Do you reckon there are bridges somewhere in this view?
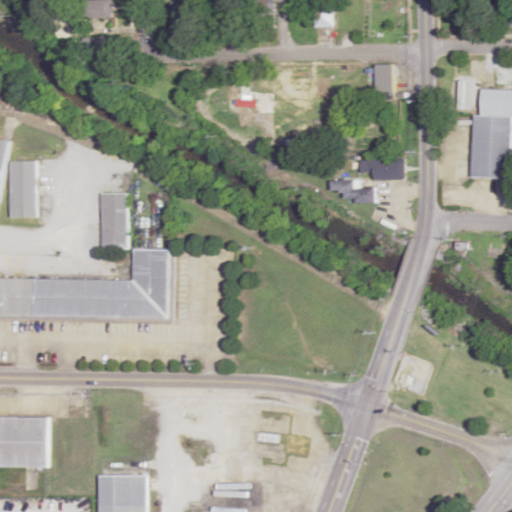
Yes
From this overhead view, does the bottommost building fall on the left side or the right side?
left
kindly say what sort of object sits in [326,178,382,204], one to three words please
house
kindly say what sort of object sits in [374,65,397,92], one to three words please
building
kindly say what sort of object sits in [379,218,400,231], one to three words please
vehicle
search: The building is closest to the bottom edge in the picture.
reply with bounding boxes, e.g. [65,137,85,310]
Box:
[98,472,150,512]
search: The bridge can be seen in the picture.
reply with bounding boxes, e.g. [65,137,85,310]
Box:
[386,234,443,306]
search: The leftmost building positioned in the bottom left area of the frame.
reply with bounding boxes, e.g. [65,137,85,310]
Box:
[0,416,52,470]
